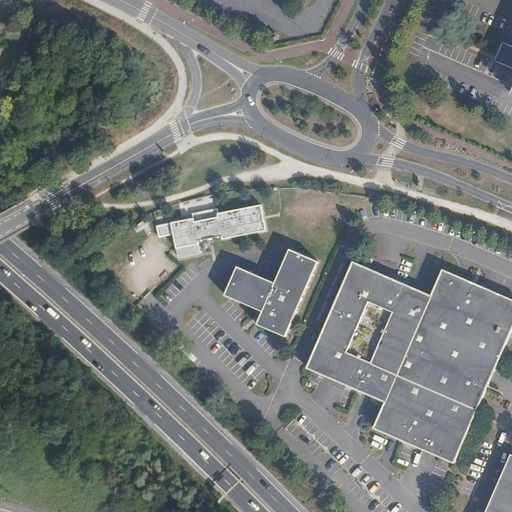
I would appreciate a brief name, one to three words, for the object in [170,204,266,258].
building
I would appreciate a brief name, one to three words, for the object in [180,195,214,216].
building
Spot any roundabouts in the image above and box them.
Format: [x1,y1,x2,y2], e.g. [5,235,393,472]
[240,66,382,167]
